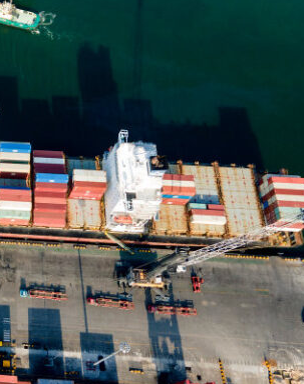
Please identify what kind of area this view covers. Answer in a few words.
port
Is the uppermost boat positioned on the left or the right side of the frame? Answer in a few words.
left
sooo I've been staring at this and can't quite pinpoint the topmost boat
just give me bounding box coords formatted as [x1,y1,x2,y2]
[0,0,42,32]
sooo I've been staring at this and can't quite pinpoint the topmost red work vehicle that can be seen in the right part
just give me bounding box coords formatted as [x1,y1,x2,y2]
[189,272,202,292]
